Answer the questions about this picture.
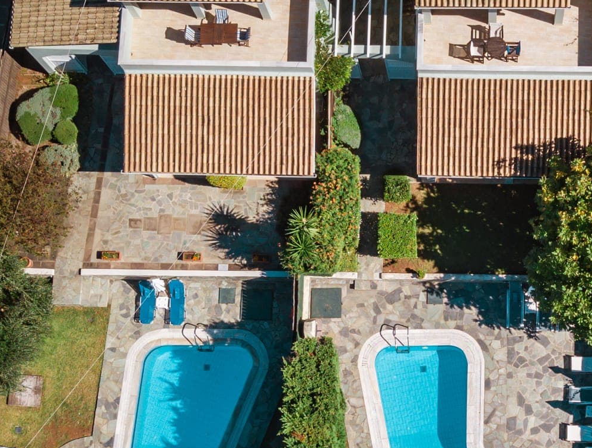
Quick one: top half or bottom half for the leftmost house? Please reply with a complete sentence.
Seen from above, the leftmost house lies in the top half of the view.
